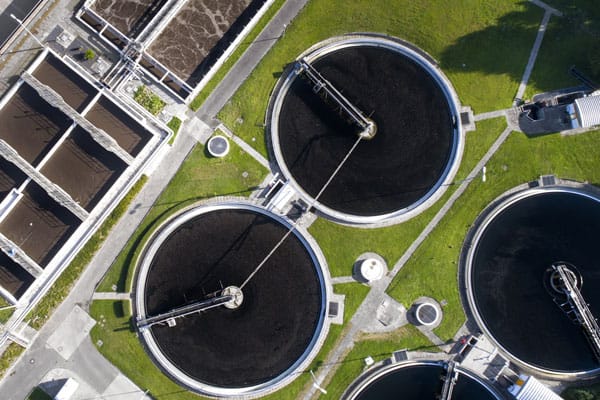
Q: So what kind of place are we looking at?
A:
industrial area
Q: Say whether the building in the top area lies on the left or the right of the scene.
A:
right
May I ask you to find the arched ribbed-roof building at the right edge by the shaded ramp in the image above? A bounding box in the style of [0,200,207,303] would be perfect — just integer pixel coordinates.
[568,95,600,129]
